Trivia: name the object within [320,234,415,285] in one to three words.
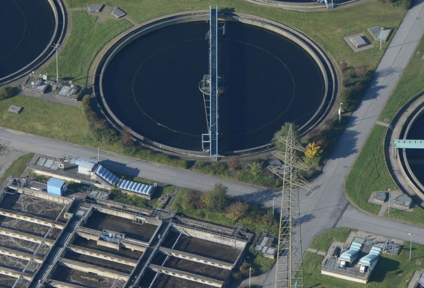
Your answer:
building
